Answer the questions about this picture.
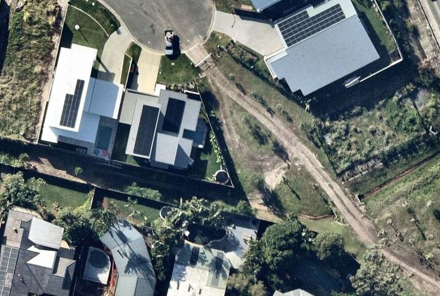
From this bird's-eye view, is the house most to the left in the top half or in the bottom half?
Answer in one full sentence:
The house most to the left is in the bottom half of the image.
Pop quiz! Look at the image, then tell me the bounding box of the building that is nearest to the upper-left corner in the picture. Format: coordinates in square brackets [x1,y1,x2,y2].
[42,44,123,143]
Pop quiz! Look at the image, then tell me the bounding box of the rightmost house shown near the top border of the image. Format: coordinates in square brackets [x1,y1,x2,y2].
[265,0,381,96]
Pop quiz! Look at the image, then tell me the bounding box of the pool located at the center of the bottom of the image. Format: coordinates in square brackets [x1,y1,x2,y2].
[184,224,228,247]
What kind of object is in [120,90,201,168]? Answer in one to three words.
house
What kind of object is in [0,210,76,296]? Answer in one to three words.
house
